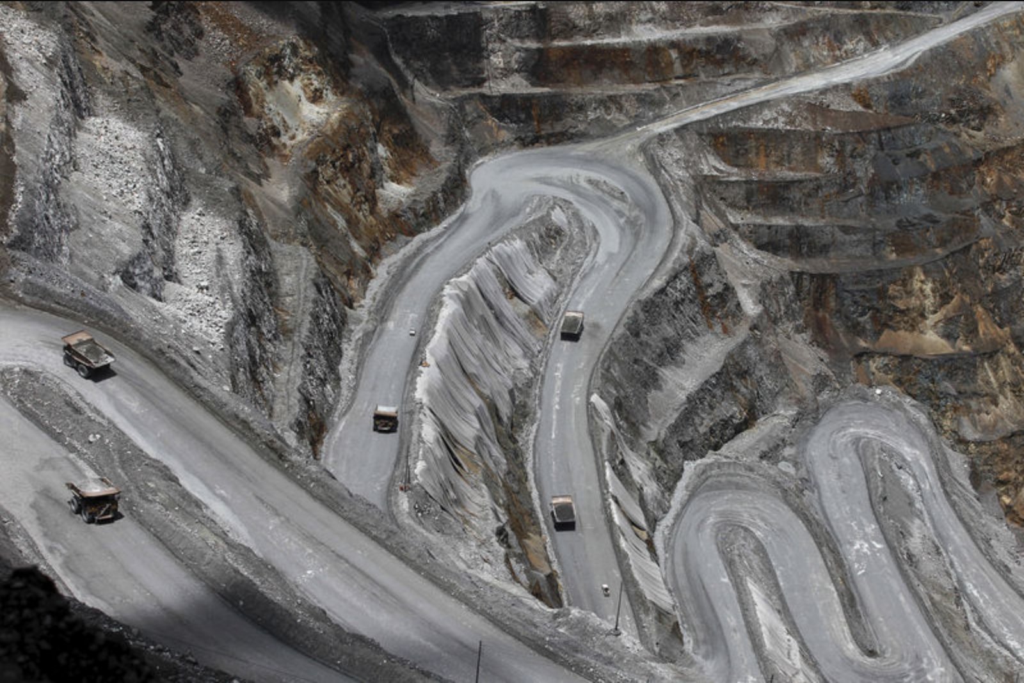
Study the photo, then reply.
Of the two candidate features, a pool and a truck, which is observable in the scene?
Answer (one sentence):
The image shows a truck.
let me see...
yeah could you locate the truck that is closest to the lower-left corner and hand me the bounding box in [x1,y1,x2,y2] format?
[68,468,122,524]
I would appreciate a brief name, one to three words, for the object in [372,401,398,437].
truck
